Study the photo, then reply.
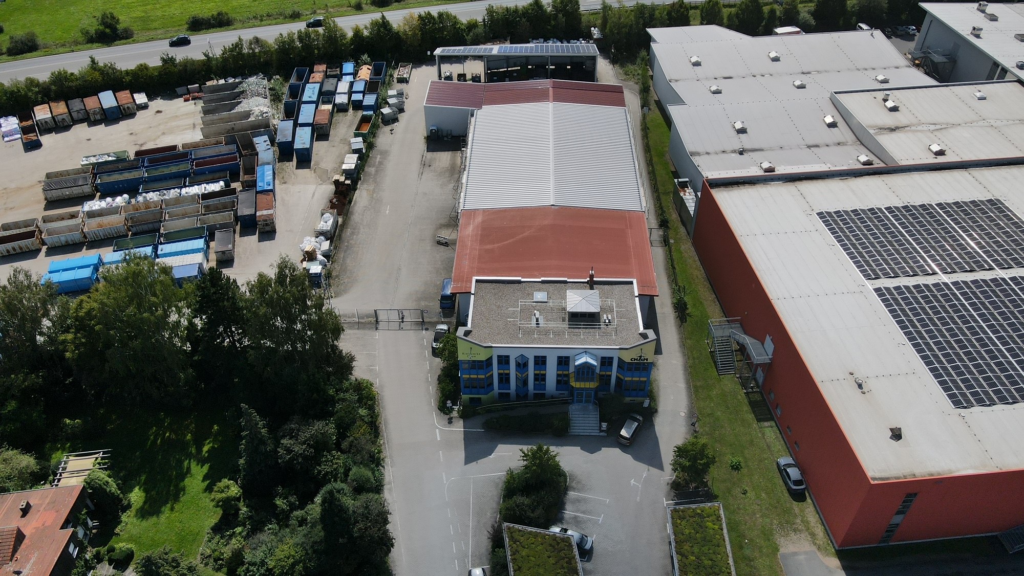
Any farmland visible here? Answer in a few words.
No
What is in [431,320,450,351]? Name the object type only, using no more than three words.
car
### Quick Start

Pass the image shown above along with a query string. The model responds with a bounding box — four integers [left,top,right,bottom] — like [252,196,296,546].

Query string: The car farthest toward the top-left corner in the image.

[168,35,191,47]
